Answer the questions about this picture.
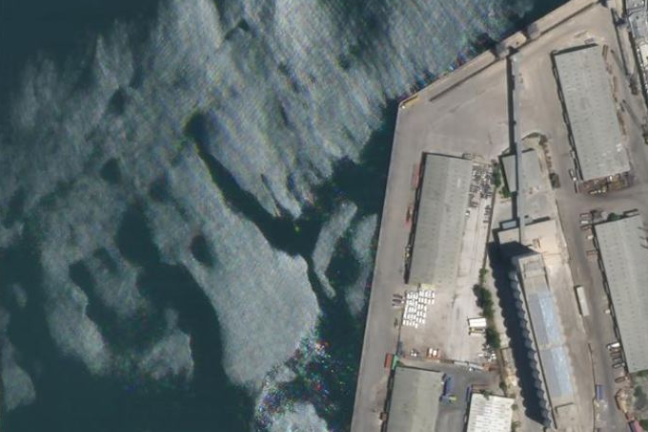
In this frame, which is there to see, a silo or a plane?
silo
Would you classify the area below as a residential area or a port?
port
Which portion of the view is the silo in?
bottom right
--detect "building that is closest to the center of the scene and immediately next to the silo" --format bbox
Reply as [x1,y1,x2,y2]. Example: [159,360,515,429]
[405,153,472,288]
